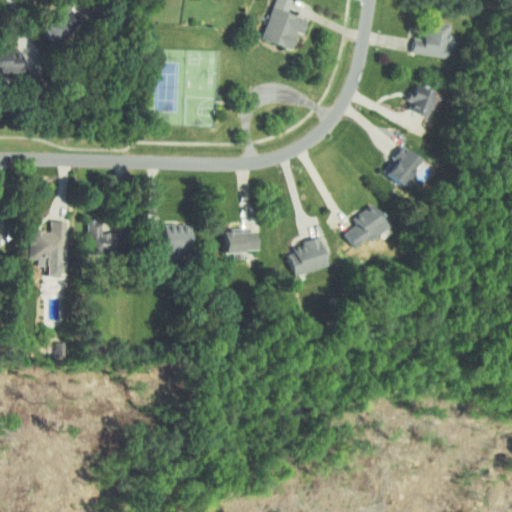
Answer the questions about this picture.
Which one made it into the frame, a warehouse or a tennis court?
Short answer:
tennis court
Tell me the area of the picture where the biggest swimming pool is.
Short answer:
left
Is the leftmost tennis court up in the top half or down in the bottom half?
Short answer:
top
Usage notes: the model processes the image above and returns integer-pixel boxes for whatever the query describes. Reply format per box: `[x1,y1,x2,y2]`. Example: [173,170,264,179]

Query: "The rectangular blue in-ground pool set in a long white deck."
[42,276,62,326]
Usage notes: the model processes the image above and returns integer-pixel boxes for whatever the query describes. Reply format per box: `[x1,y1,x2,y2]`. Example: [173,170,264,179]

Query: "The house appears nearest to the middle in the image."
[226,229,260,260]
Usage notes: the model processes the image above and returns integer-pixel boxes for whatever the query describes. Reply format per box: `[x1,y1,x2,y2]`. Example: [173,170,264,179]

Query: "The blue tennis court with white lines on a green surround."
[146,50,184,127]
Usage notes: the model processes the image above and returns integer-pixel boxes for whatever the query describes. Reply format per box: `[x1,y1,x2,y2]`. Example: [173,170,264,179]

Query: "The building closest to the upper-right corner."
[410,22,457,60]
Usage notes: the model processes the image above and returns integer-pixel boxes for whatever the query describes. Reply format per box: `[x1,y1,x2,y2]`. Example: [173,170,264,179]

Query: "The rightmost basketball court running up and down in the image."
[184,50,220,128]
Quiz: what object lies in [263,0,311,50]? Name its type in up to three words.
house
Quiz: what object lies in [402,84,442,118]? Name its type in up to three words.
house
